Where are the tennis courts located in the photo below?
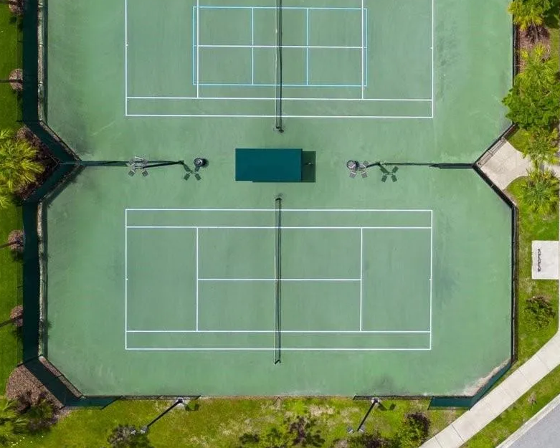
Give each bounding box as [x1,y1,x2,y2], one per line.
[43,162,513,395]
[43,0,514,162]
